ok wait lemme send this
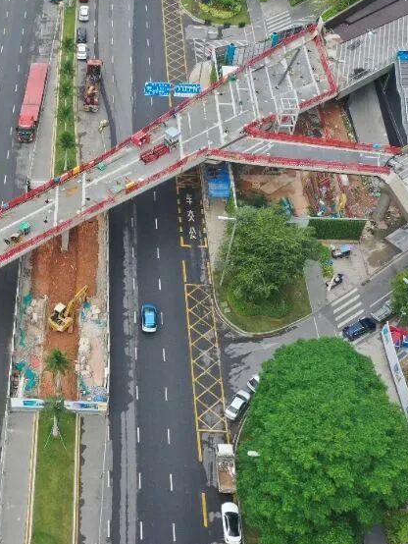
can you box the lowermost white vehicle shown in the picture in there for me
[218,502,243,544]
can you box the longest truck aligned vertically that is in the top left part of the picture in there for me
[17,62,45,146]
